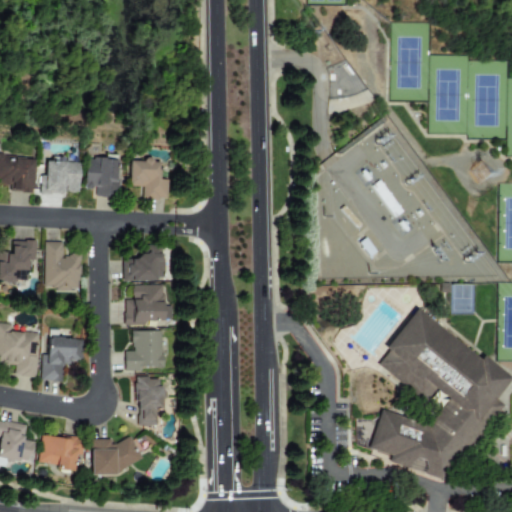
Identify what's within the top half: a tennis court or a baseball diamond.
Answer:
tennis court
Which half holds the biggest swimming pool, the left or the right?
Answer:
right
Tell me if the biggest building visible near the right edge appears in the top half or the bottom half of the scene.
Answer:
bottom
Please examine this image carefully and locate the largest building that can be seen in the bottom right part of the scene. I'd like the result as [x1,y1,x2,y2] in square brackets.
[364,306,512,484]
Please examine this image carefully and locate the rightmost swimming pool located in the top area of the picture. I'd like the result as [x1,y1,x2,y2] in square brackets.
[148,150,170,162]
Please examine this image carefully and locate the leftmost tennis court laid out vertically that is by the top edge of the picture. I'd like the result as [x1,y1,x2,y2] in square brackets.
[392,22,430,100]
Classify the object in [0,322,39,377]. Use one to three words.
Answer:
house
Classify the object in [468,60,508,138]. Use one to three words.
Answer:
tennis court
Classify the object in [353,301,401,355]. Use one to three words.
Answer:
swimming pool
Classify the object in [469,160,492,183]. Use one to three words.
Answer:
gazebo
